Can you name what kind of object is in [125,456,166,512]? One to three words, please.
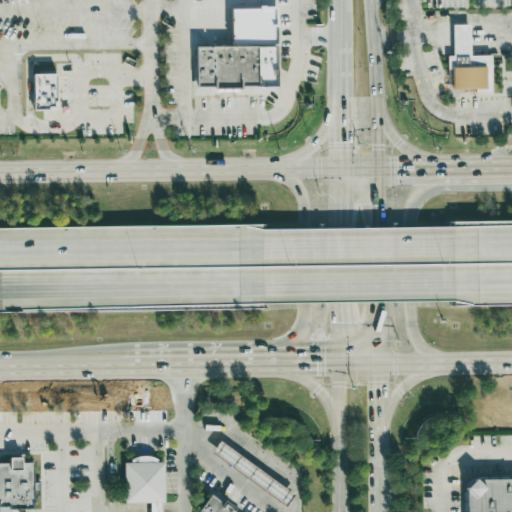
building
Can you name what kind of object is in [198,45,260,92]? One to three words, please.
building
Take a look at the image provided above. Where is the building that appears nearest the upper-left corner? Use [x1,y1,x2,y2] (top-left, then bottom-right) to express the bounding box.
[34,73,58,110]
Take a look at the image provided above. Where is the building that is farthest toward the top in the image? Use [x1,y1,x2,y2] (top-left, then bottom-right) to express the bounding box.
[234,5,280,45]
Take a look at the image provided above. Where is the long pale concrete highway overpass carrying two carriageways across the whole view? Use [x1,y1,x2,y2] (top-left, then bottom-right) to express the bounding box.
[0,220,512,315]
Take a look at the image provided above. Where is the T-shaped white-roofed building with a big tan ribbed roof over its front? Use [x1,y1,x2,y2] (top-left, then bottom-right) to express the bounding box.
[448,24,495,94]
